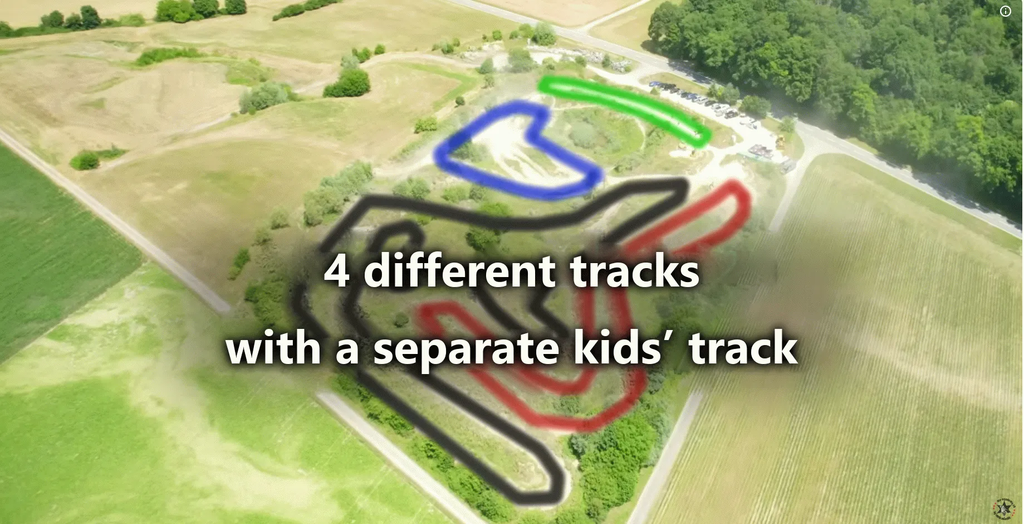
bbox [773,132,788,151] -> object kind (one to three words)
work vehicle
